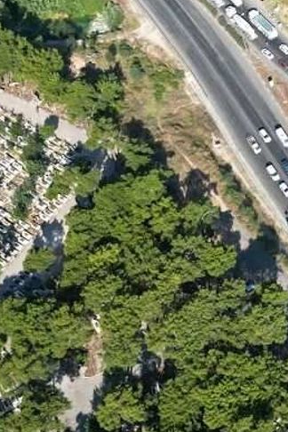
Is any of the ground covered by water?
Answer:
No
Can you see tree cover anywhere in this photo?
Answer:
Yes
